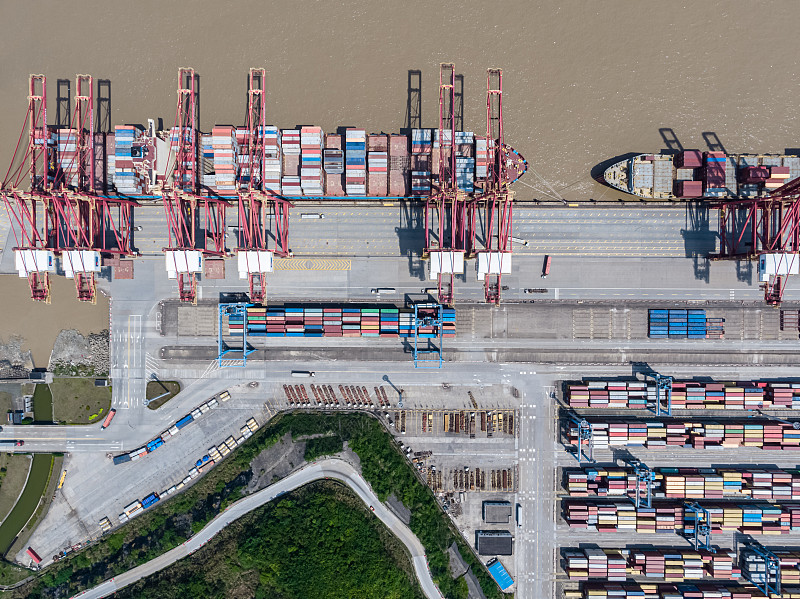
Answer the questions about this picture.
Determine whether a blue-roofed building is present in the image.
Yes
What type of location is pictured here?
port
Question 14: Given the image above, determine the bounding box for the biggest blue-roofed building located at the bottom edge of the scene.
[488,558,514,591]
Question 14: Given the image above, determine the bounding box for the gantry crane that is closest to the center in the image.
[409,302,445,368]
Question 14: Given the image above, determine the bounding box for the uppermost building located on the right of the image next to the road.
[482,501,512,523]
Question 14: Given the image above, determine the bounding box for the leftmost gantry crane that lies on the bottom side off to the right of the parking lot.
[562,414,593,461]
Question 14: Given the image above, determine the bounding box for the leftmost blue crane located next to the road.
[218,302,259,368]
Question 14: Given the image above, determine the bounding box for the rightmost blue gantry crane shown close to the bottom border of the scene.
[735,537,781,594]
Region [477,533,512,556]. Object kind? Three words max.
building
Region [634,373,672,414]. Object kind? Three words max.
container crane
